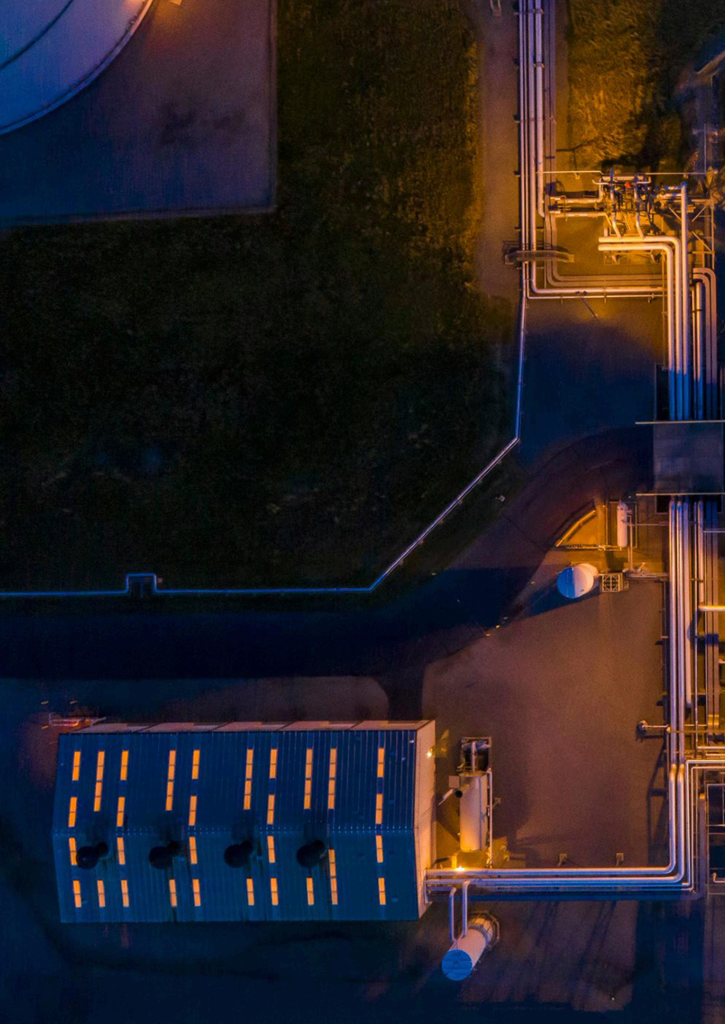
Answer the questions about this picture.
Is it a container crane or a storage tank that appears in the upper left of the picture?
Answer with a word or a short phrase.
storage tank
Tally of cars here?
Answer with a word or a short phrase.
0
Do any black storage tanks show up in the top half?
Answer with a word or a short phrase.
No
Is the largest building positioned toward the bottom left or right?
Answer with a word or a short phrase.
left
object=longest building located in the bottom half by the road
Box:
[48,721,435,924]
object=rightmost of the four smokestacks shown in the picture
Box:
[297,841,333,867]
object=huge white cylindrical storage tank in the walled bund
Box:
[0,0,157,138]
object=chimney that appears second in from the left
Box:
[149,841,188,868]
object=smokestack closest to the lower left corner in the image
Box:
[76,842,116,868]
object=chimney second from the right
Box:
[224,840,260,867]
